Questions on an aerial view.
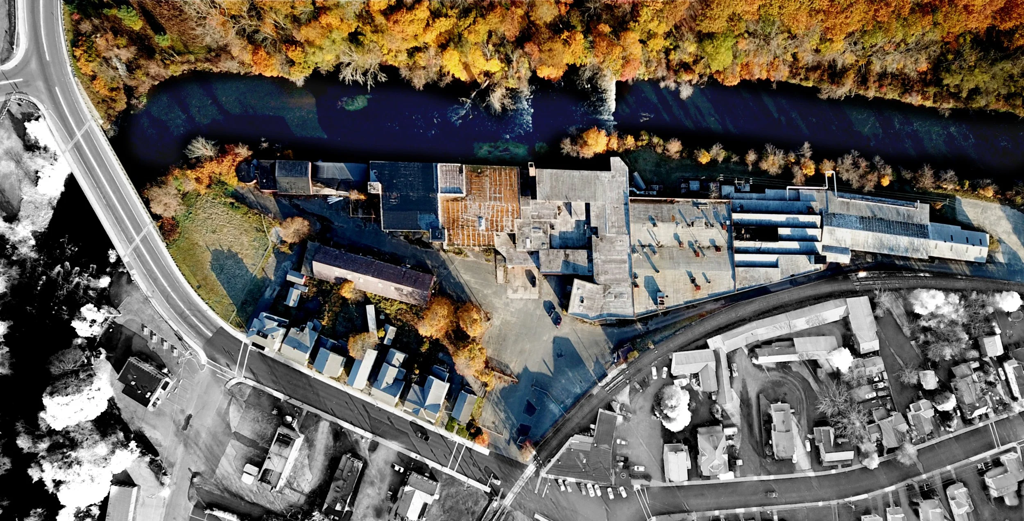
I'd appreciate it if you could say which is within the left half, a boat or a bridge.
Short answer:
bridge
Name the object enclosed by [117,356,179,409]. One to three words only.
building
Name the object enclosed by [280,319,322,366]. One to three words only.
house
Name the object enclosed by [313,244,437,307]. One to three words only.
barn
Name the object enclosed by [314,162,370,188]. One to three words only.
shed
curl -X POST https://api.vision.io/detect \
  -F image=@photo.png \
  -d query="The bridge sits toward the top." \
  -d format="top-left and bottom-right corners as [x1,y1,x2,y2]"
[44,119,172,274]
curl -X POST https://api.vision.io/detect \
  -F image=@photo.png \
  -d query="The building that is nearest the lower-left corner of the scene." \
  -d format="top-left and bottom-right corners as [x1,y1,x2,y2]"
[106,484,141,521]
